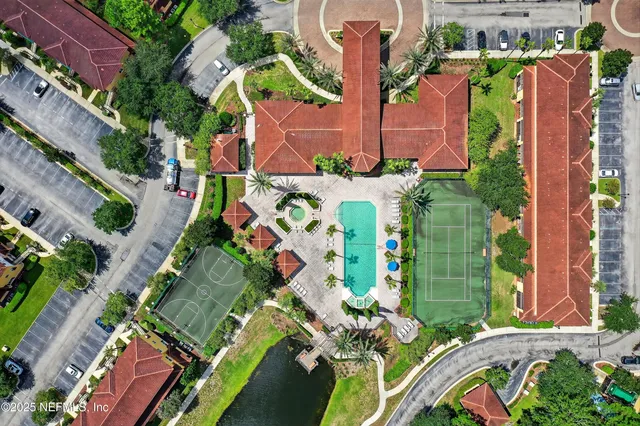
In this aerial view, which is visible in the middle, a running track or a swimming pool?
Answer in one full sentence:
The feature located in the middle is a swimming pool.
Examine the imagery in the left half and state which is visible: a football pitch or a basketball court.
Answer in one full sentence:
It is a basketball court that can be seen in the left half.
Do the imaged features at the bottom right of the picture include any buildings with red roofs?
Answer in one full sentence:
Yes, a building with a red roof appears at the bottom right of the picture.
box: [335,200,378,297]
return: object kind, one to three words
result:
swimming pool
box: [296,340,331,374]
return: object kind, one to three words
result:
pier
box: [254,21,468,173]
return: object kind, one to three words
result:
building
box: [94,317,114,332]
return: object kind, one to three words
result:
car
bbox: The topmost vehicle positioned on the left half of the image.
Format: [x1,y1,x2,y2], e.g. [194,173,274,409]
[212,58,229,76]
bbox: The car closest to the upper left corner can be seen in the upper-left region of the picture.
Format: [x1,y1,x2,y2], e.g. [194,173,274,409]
[32,79,49,98]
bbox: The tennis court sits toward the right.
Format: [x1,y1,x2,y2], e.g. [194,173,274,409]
[416,181,488,328]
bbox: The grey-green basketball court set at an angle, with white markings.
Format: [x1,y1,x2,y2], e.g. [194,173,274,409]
[150,239,250,347]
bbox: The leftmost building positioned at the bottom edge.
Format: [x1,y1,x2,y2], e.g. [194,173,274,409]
[62,329,188,426]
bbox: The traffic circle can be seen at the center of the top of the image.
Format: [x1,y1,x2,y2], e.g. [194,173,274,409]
[294,0,428,77]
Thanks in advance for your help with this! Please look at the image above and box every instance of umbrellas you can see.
[387,260,399,272]
[386,239,398,250]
